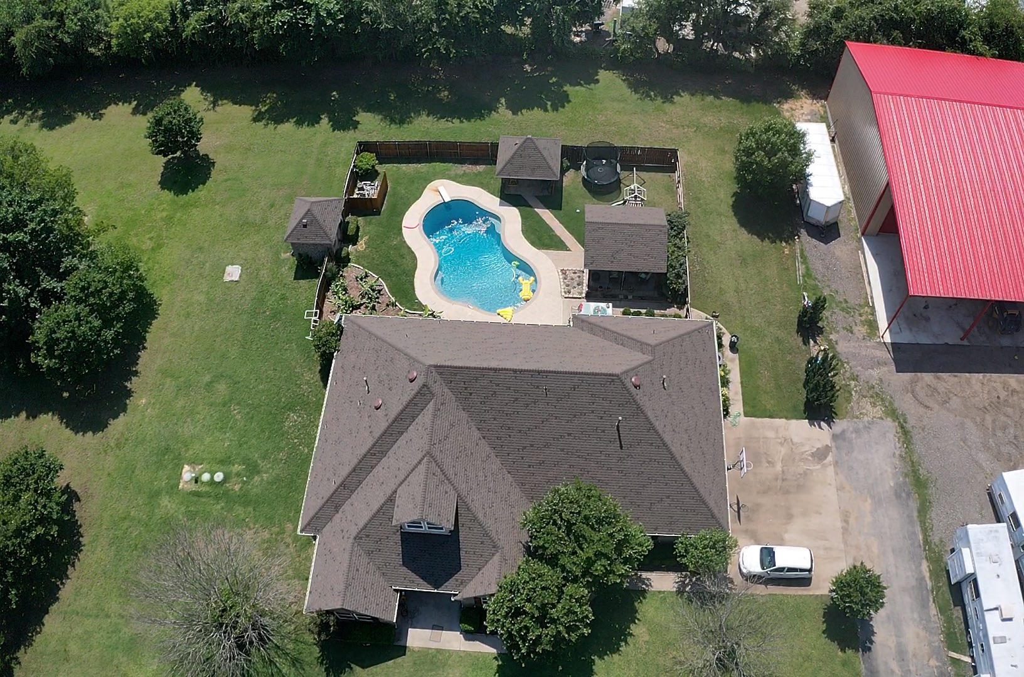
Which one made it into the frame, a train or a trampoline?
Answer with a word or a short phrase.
trampoline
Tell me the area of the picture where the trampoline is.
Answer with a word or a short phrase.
top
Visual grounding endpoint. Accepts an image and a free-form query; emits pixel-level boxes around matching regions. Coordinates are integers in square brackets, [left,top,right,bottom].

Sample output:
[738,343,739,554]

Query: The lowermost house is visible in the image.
[297,313,732,628]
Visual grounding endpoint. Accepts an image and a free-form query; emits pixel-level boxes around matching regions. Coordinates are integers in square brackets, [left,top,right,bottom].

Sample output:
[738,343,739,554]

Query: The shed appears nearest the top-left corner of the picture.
[284,196,340,259]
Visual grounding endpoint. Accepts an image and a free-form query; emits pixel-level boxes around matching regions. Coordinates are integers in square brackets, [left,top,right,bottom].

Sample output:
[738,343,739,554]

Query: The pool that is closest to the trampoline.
[419,195,541,317]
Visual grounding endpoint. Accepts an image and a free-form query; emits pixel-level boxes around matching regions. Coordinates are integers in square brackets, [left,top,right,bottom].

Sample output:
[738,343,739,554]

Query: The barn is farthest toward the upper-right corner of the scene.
[827,40,1024,342]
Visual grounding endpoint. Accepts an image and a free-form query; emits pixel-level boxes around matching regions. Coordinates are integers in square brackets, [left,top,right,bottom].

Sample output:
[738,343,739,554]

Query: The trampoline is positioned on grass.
[582,144,624,196]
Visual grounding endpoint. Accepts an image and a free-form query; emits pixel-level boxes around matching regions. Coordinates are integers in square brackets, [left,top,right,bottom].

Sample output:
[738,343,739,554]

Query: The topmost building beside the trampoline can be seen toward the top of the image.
[495,133,561,198]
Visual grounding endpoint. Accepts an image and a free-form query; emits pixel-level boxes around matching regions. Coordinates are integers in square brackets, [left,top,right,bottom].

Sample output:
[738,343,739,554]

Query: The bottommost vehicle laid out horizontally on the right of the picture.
[740,550,819,588]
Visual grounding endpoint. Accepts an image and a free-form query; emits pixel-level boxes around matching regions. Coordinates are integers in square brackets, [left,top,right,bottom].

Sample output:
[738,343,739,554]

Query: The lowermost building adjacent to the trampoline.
[584,203,669,288]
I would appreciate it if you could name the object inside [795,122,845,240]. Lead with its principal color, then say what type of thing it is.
white trailer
